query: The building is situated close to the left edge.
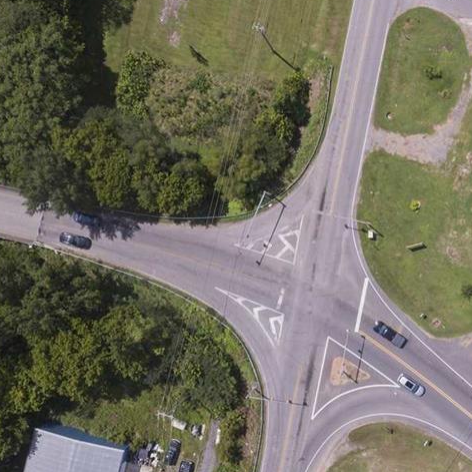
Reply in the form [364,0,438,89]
[23,423,130,472]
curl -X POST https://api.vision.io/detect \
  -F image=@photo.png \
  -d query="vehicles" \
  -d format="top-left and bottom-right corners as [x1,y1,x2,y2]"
[166,435,183,465]
[396,371,426,395]
[175,457,190,472]
[61,232,93,248]
[373,320,408,349]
